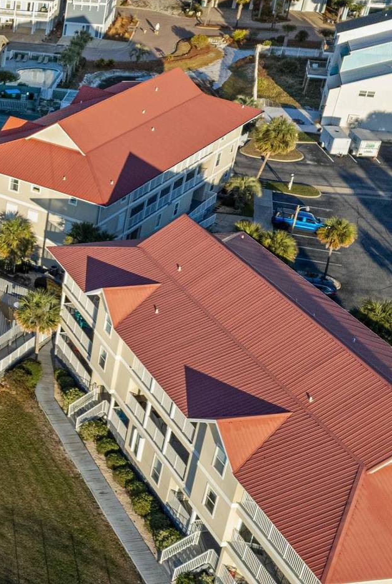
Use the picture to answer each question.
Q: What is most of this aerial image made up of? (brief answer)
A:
buildings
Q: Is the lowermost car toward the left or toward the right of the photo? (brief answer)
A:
right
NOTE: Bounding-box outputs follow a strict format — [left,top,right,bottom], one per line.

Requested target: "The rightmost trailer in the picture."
[353,130,381,158]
